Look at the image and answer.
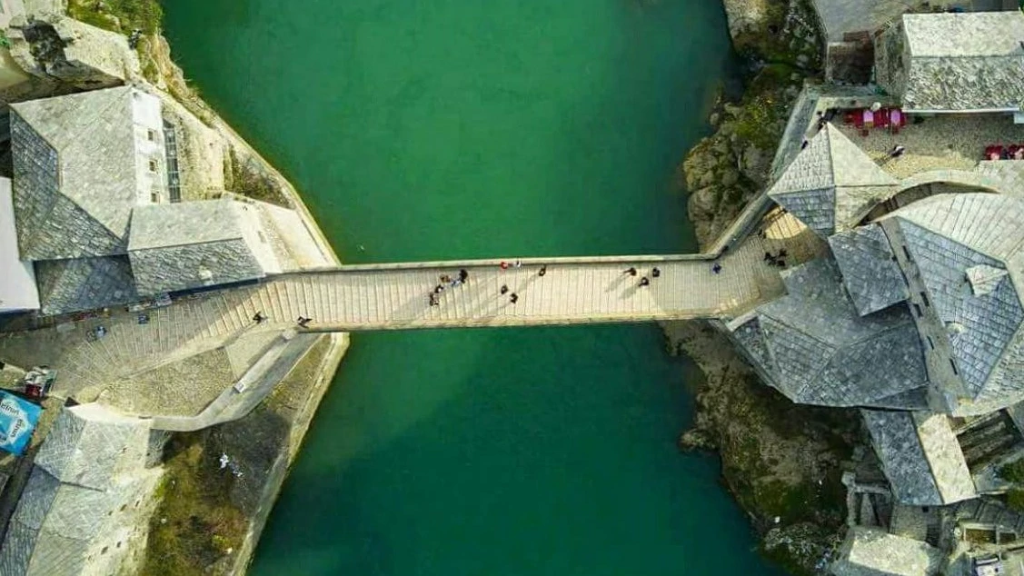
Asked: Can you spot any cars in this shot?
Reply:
No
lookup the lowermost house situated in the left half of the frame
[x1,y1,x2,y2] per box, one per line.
[0,462,168,576]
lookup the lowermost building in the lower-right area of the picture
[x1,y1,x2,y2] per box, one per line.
[813,518,939,576]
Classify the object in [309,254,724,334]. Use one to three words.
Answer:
bridge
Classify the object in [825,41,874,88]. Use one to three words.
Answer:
shed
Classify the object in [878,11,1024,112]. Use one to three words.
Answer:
house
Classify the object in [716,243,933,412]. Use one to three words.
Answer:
house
